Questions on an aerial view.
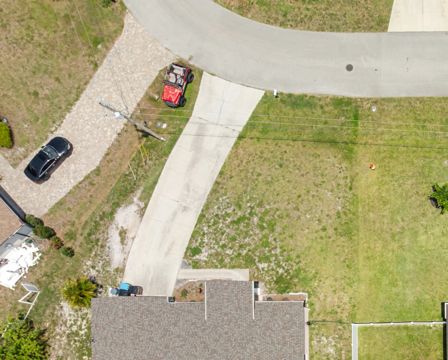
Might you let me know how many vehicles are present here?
2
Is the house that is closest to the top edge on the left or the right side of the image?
left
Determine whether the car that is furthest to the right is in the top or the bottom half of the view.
top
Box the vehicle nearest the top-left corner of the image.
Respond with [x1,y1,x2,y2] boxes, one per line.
[23,137,74,184]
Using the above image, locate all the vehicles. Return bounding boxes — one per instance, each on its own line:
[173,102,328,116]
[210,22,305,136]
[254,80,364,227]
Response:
[162,60,196,110]
[23,137,74,184]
